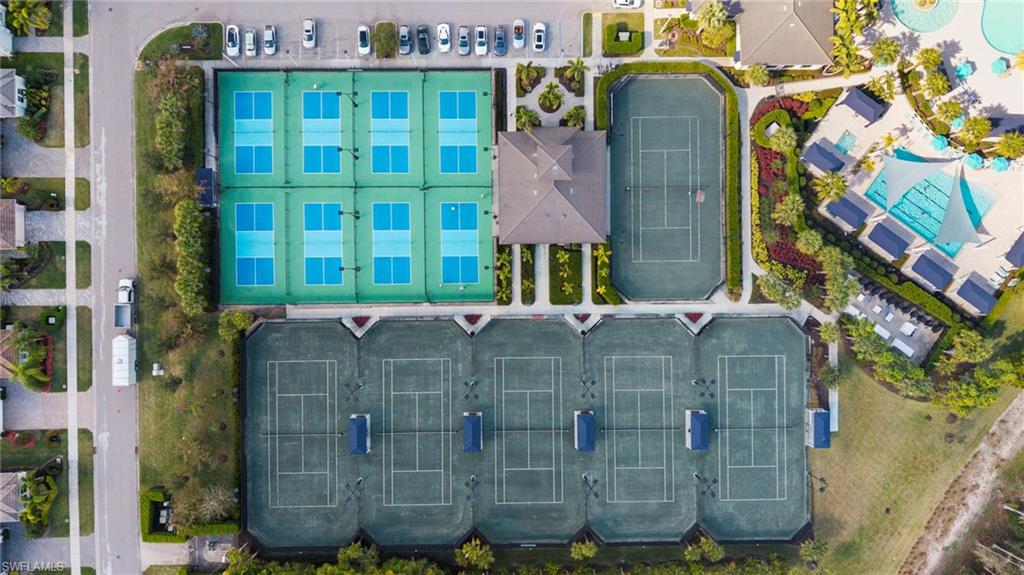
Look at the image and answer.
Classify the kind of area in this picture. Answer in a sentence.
It's a sports ground.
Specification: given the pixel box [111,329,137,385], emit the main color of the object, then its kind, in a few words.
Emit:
white trailer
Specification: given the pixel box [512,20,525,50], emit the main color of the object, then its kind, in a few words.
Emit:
white vehicle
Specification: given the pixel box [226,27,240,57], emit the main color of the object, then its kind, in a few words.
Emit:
white car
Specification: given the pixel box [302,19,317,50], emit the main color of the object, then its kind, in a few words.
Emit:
white car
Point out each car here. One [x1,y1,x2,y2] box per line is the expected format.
[493,25,508,58]
[398,25,411,56]
[357,26,371,57]
[302,19,317,50]
[512,20,525,50]
[263,26,277,57]
[417,25,431,56]
[244,28,258,58]
[532,23,546,53]
[474,26,488,57]
[457,26,471,57]
[226,27,240,57]
[437,23,451,54]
